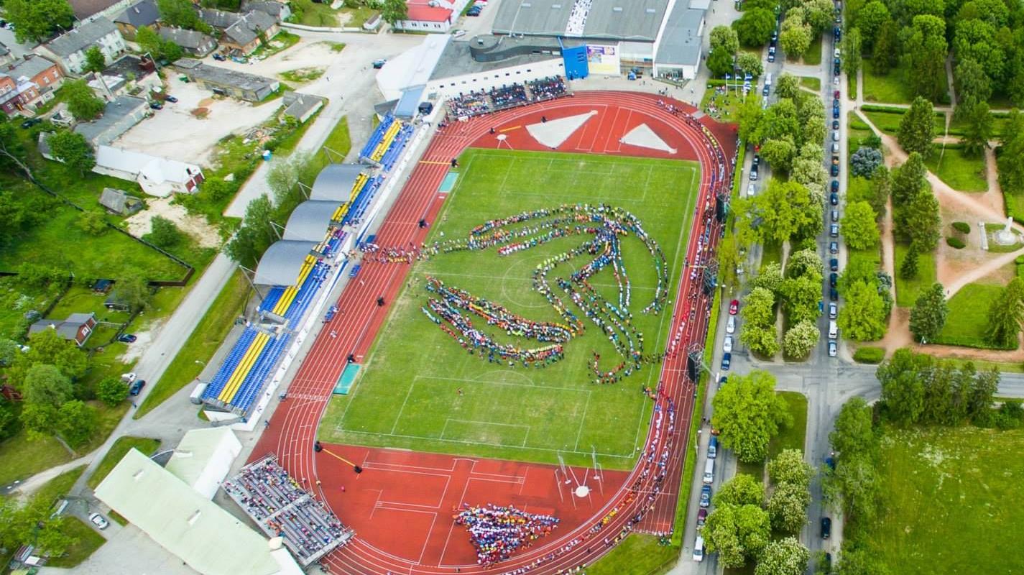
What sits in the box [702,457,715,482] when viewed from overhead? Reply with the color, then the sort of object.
white vehicle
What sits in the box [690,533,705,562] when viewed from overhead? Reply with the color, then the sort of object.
white vehicle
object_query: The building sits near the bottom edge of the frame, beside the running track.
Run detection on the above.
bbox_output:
[93,425,307,575]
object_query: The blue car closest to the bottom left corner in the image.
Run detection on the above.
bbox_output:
[129,380,149,397]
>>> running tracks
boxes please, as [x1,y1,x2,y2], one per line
[251,89,738,575]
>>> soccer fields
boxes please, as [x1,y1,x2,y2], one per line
[316,150,703,471]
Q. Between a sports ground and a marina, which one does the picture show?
sports ground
